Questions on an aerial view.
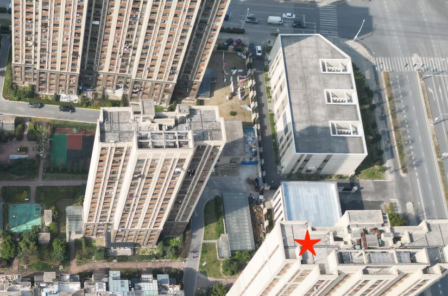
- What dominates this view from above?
buildings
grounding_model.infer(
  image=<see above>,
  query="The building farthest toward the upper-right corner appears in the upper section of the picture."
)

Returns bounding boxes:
[268,35,367,175]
